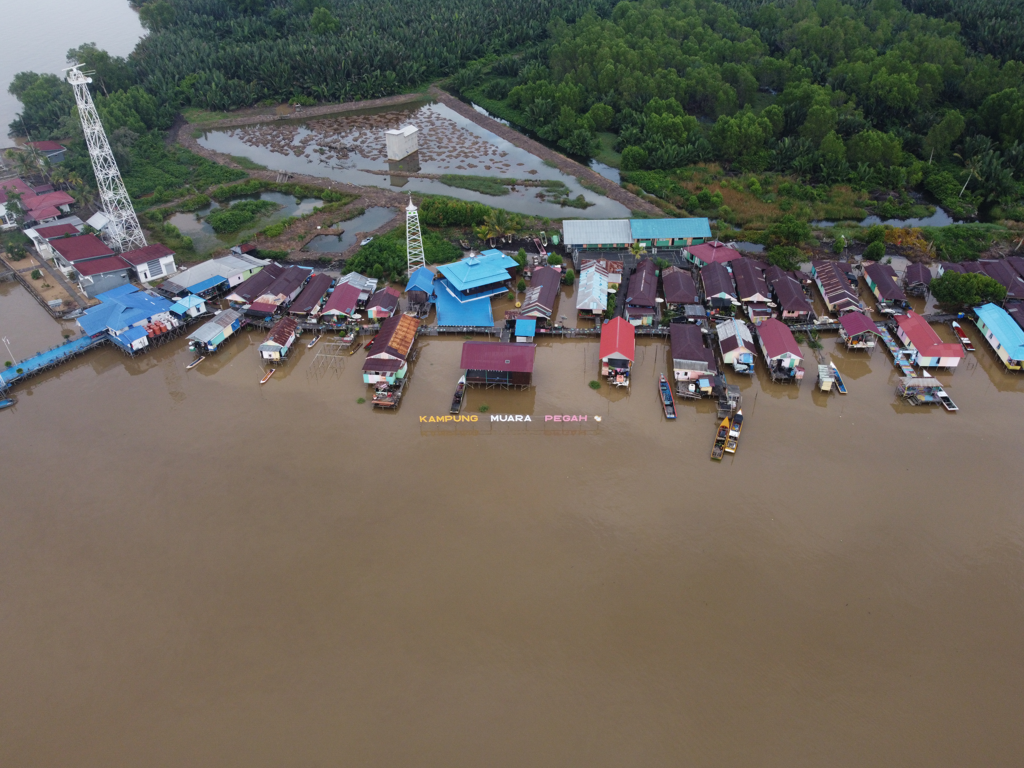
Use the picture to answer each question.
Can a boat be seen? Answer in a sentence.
Yes, looking at the shot, I can spot a boat.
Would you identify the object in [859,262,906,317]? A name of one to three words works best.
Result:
house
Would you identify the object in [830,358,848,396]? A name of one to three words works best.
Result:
boat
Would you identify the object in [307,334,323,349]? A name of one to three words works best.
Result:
boat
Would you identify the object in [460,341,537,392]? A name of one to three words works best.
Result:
building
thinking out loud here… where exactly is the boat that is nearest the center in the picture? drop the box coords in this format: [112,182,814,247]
[449,372,466,416]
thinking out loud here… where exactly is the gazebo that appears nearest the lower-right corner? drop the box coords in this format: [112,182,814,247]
[897,376,943,407]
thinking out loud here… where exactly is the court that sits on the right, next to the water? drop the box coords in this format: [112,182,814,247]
[573,250,689,320]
